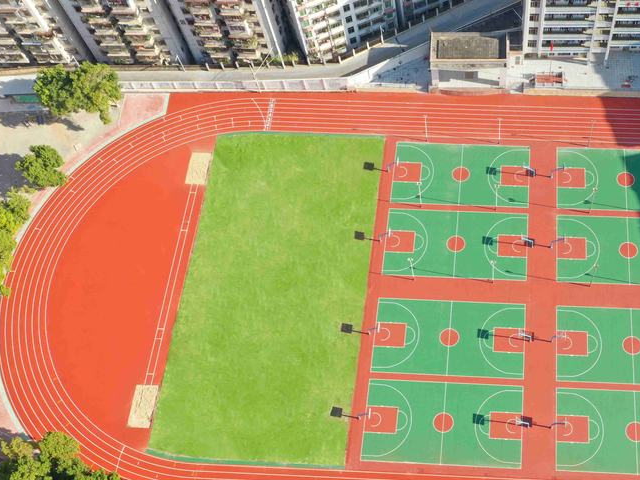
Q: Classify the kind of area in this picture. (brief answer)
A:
sports ground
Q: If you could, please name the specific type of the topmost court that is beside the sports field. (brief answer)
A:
basketball court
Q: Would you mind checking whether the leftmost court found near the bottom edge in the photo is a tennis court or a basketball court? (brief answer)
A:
basketball court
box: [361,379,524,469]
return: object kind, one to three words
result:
basketball court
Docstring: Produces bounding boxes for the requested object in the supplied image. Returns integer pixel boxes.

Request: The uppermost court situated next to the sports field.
[390,142,529,207]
